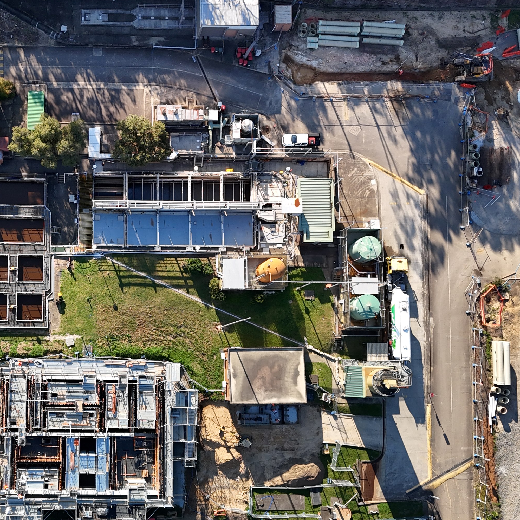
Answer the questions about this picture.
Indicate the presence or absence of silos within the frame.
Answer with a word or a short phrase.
Yes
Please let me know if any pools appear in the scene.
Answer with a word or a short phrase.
No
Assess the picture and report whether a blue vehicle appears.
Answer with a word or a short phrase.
No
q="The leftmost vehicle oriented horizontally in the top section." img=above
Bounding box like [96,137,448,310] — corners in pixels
[283,132,319,148]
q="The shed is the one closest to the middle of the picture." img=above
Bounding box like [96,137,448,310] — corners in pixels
[216,257,248,291]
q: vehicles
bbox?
[283,132,319,148]
[438,51,493,82]
[385,251,410,360]
[219,426,251,449]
